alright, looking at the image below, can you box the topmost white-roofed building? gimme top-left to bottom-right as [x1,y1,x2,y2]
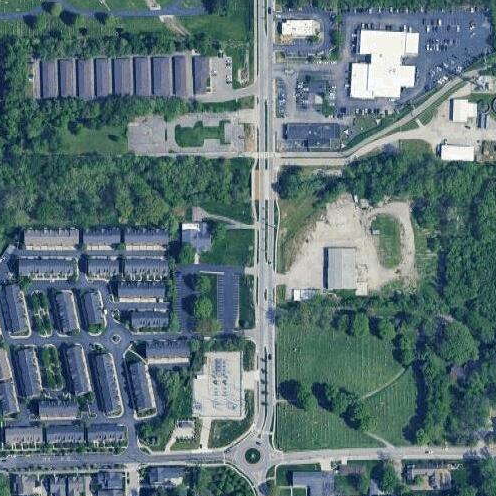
[282,20,314,37]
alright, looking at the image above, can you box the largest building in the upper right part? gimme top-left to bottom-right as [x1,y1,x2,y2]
[351,29,419,98]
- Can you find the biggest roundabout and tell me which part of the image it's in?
bottom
